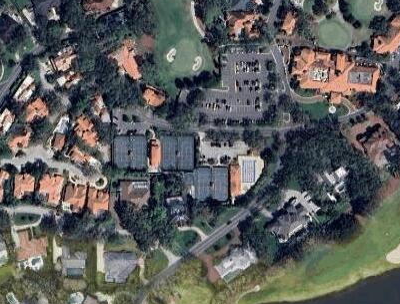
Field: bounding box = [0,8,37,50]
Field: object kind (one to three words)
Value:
house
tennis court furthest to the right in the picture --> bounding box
[211,166,228,199]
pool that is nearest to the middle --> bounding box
[238,155,263,195]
